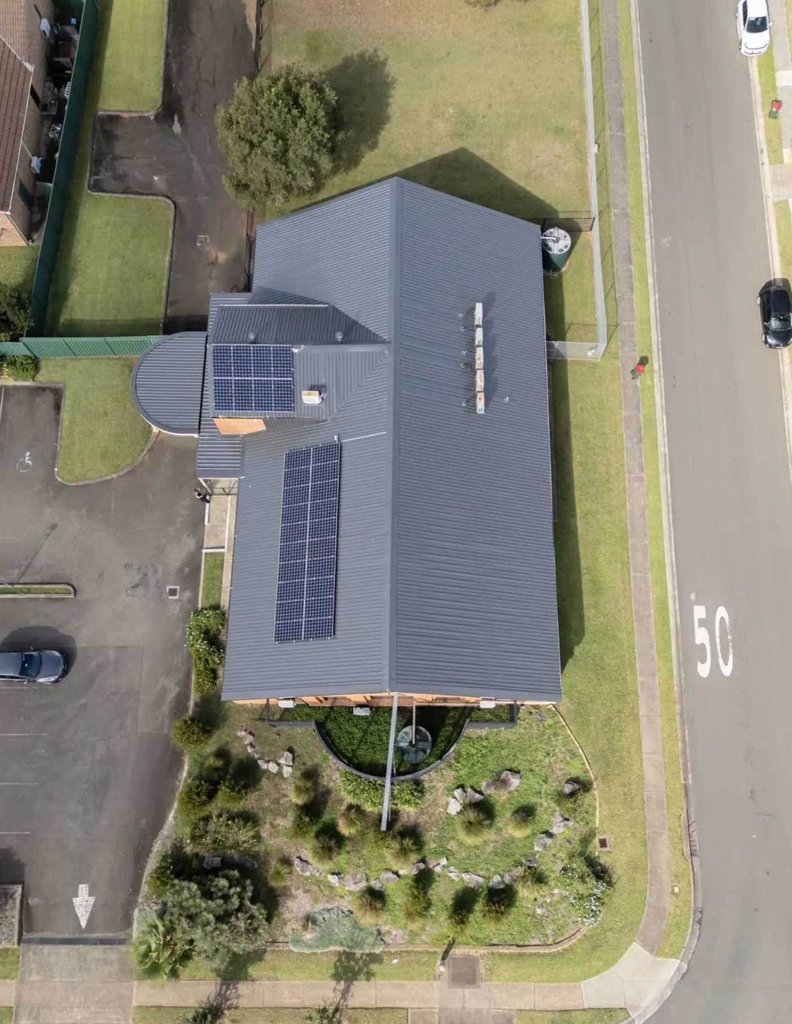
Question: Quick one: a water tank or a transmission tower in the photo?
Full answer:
I can see a water tank in this picture.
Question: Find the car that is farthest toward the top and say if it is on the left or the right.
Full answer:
You can find the car that is farthest toward the top on the right side of the picture.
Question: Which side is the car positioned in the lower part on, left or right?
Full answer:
The car positioned in the lower part appears in the left half of the scene.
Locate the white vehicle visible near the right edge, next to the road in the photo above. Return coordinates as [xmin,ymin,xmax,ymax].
[730,0,774,53]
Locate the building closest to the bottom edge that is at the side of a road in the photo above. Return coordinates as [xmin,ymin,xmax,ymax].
[130,177,564,705]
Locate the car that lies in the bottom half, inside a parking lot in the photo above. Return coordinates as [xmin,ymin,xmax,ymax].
[0,642,71,687]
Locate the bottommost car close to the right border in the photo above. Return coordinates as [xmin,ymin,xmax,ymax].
[754,282,792,352]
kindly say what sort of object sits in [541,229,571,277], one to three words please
water tank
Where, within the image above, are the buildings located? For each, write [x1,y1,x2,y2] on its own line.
[0,0,56,246]
[130,177,564,705]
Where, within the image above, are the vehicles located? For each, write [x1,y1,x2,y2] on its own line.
[730,0,774,53]
[0,642,71,687]
[754,282,792,352]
